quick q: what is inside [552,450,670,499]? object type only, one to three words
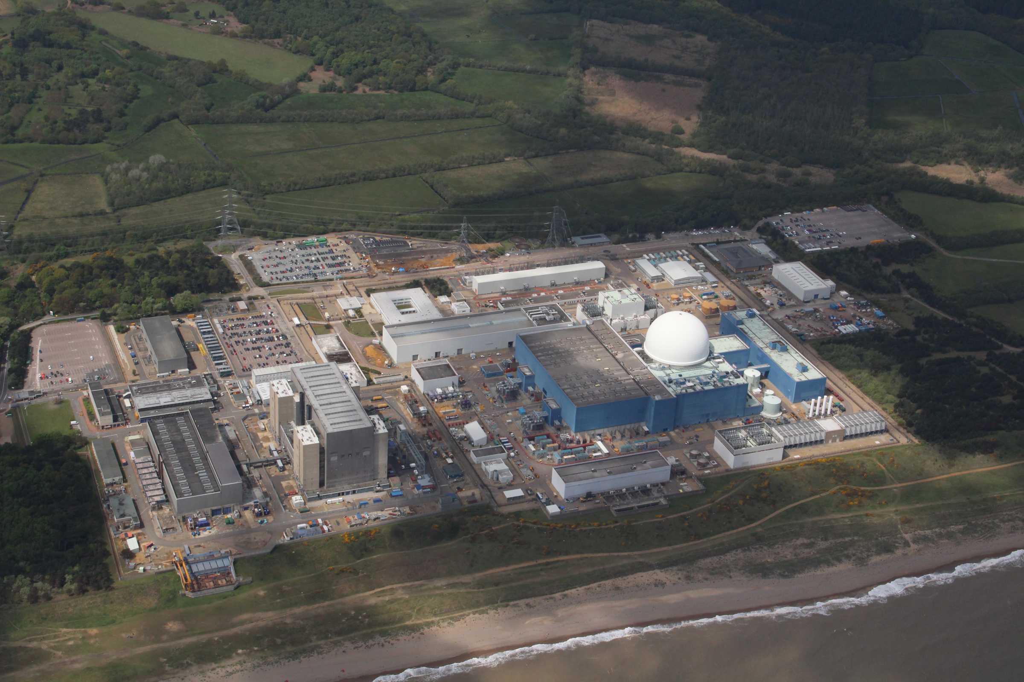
building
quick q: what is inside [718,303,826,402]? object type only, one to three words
building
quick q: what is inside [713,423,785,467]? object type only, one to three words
house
